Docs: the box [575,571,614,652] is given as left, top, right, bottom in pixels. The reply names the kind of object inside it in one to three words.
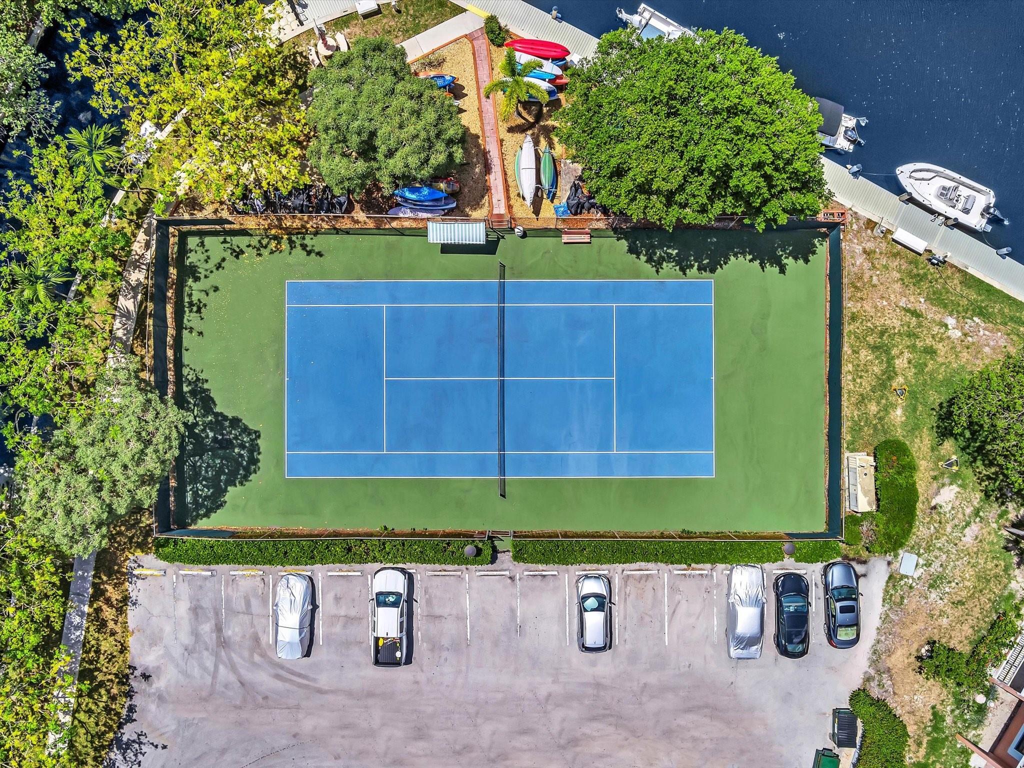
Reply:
car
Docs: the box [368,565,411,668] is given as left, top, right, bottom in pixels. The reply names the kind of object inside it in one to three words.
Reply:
truck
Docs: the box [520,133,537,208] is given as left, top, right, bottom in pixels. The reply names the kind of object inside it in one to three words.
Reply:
boat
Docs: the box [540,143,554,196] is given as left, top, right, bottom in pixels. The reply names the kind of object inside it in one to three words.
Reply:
boat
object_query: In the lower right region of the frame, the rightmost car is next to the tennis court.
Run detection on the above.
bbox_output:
[818,560,863,648]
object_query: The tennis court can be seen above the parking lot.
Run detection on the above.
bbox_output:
[173,229,826,531]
